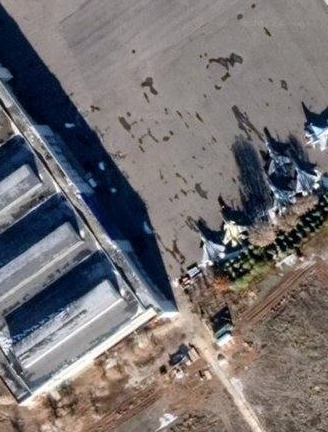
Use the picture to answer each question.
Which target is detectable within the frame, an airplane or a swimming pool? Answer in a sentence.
The one in the frame is an airplane.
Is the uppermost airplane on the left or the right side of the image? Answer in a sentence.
It is on the right.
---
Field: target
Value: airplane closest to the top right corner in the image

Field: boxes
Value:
[304,121,328,152]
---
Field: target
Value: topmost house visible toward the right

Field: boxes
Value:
[212,324,236,346]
